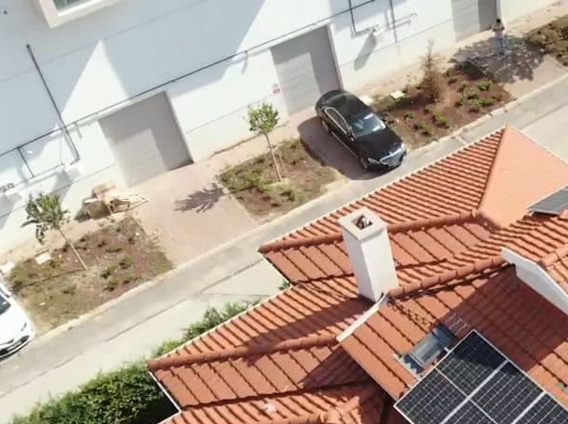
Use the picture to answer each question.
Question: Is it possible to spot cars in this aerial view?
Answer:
Yes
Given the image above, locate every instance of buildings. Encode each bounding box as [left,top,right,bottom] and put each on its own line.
[135,121,568,424]
[0,0,548,243]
